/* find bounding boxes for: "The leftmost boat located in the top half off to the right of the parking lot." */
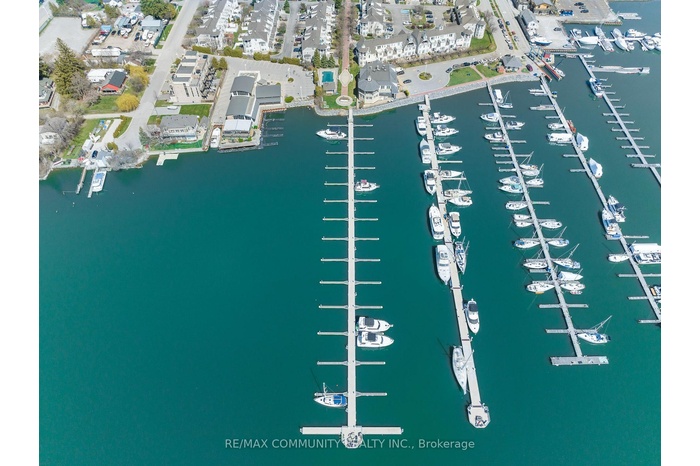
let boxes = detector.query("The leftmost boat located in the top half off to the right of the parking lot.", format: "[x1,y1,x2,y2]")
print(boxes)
[315,124,349,139]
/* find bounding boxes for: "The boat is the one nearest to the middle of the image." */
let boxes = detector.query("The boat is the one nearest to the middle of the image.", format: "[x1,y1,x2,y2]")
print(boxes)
[354,179,380,192]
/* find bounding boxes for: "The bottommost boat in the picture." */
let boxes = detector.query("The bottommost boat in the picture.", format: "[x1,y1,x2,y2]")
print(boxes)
[314,389,346,407]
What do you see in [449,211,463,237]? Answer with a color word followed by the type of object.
white boat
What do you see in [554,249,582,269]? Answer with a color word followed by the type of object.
white boat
